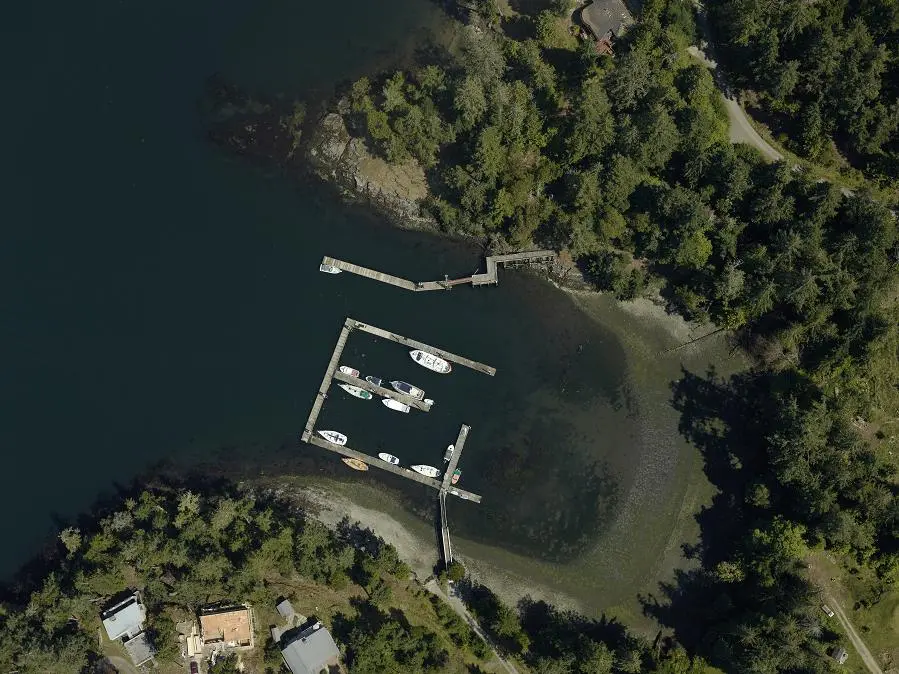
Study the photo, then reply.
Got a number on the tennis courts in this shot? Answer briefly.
zero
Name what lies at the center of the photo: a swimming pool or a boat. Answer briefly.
boat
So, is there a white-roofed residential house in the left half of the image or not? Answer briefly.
Yes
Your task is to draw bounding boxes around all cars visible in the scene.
[821,603,836,619]
[191,660,198,674]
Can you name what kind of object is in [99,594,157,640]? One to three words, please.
house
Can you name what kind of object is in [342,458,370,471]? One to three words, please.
boat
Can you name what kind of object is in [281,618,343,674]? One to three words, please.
house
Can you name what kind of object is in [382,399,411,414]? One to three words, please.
boat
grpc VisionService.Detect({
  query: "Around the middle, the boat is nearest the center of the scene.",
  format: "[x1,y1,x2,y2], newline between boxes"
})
[409,350,454,375]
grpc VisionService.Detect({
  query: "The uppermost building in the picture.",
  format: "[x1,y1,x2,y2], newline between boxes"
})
[582,0,634,55]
